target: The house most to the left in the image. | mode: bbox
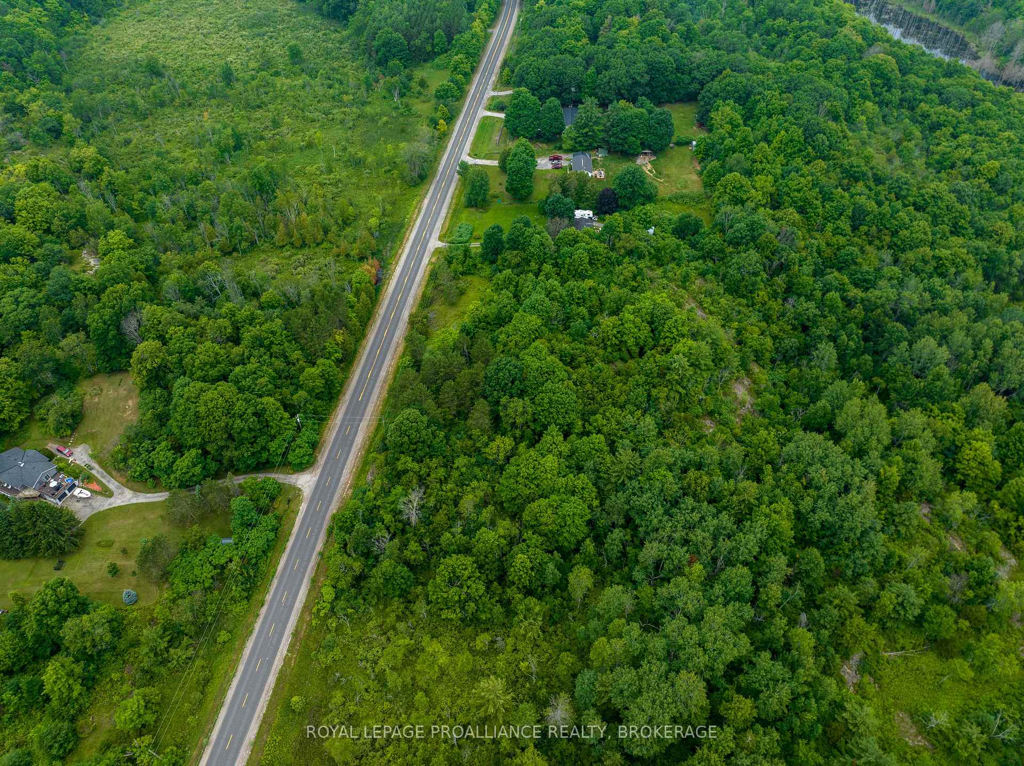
[0,447,87,505]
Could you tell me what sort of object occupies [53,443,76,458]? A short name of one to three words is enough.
car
